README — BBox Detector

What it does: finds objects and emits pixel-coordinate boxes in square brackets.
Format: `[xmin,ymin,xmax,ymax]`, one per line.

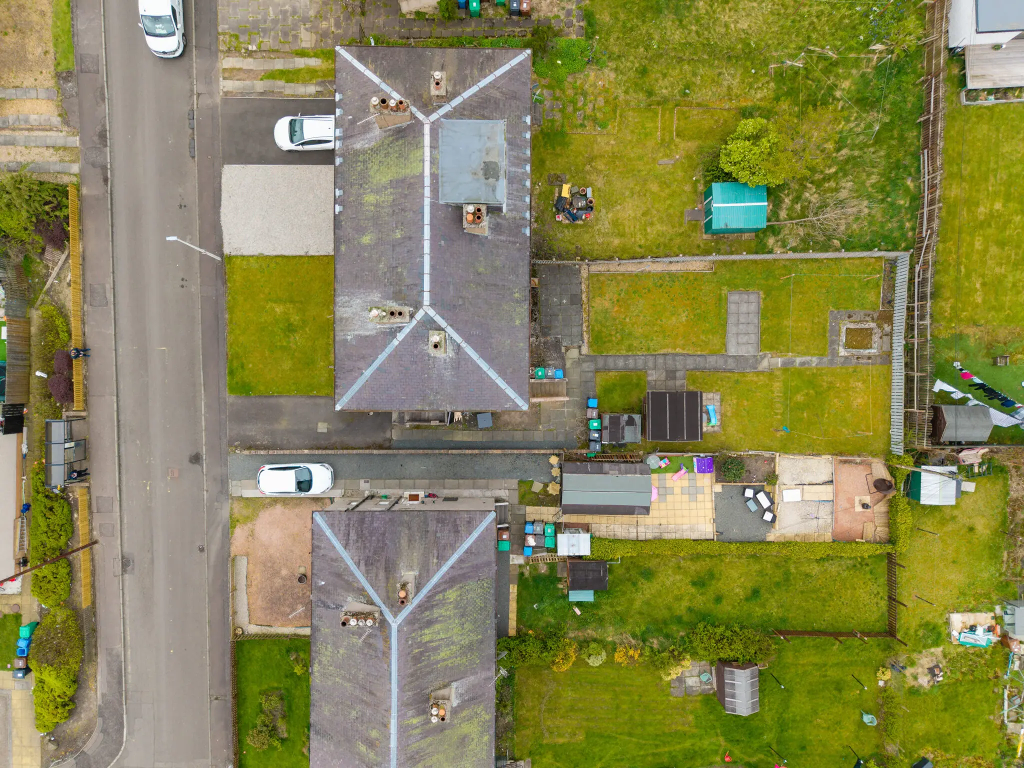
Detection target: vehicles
[257,461,335,499]
[272,116,333,155]
[143,0,188,62]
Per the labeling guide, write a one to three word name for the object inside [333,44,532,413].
house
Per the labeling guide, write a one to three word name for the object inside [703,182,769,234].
shed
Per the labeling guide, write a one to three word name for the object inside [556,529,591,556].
shed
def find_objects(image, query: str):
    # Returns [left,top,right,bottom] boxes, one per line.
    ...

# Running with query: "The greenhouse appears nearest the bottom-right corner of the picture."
[993,598,1024,634]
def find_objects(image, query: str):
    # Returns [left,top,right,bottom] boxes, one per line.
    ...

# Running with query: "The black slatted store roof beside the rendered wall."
[0,403,35,433]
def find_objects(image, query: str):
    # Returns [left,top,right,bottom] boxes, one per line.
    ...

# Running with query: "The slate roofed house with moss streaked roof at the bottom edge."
[309,487,497,768]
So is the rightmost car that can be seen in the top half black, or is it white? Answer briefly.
white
